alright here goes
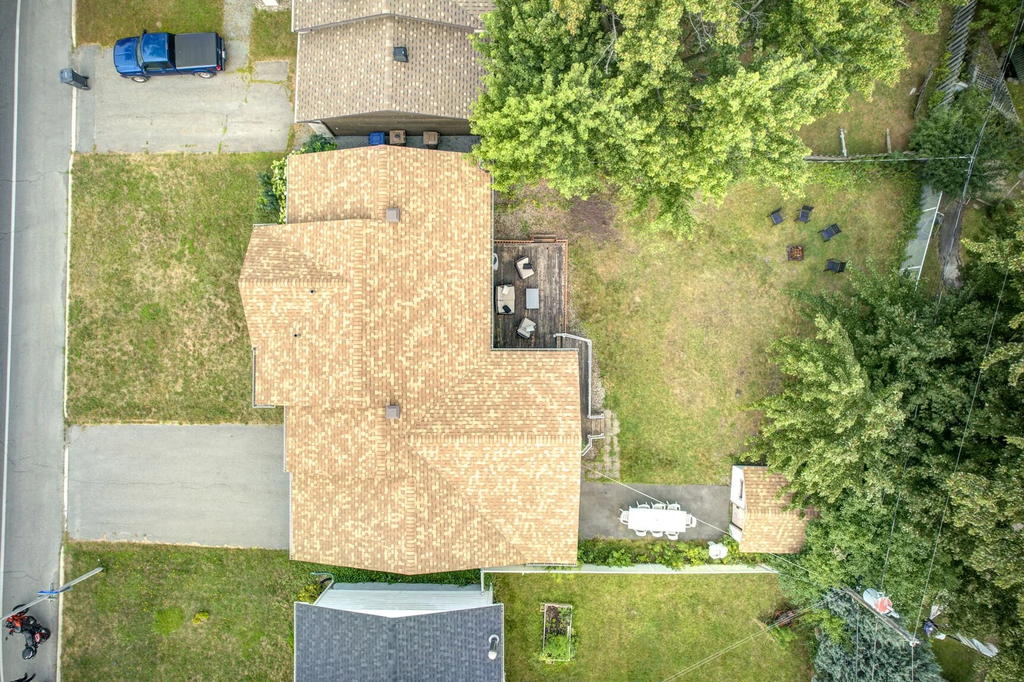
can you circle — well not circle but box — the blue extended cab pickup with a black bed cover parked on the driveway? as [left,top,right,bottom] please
[111,28,230,83]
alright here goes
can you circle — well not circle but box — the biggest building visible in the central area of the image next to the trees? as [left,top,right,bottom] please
[239,144,581,574]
